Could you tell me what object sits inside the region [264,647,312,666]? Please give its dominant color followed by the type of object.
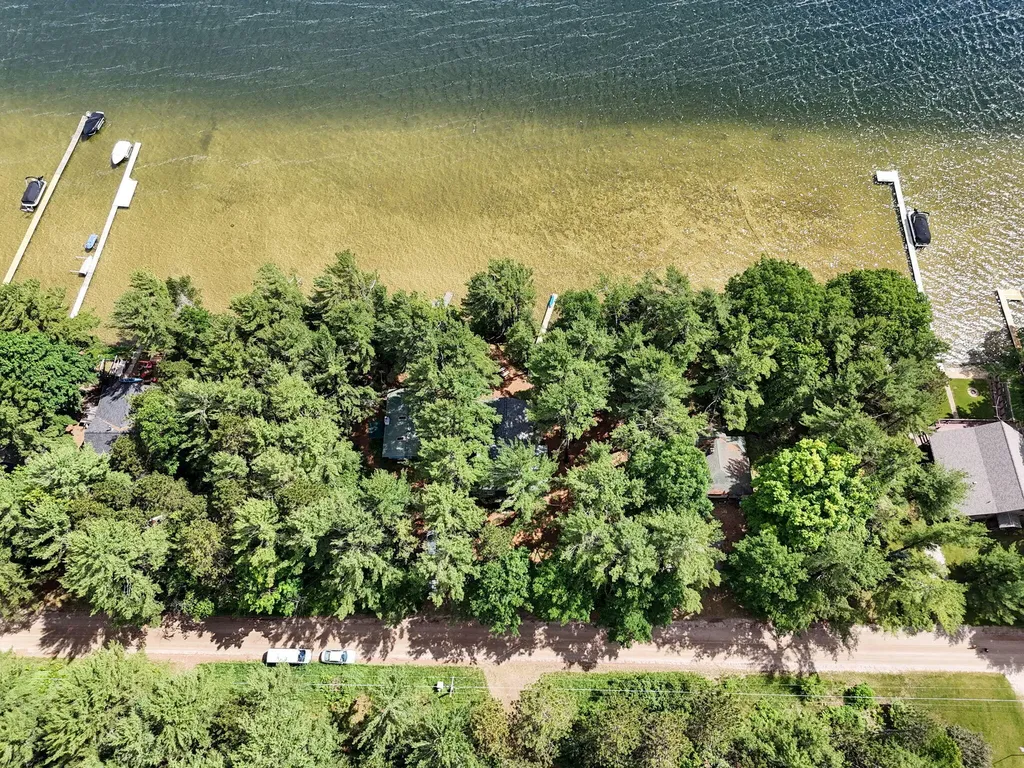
white vehicle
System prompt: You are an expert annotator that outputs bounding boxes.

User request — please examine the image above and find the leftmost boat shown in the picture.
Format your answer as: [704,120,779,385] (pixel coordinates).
[21,174,50,211]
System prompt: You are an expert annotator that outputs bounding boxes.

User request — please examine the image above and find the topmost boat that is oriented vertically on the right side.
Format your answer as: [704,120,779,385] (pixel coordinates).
[908,206,931,249]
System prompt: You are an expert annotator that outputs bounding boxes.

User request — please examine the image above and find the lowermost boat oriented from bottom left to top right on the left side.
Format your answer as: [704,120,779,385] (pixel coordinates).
[86,234,99,250]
